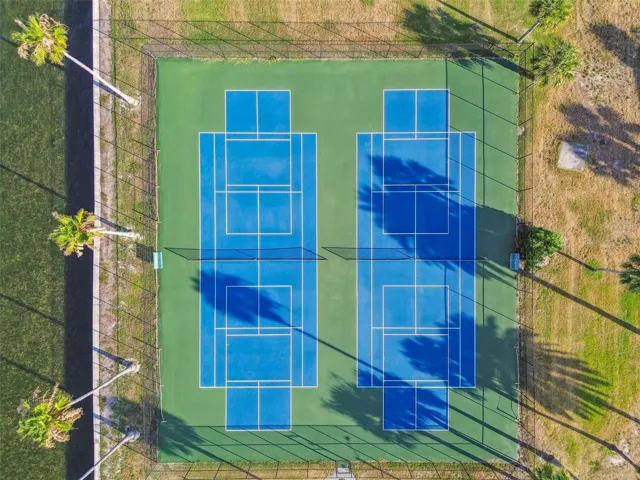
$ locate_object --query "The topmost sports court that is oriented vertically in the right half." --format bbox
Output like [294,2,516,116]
[383,89,449,234]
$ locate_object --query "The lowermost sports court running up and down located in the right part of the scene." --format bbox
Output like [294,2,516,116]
[383,286,449,431]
